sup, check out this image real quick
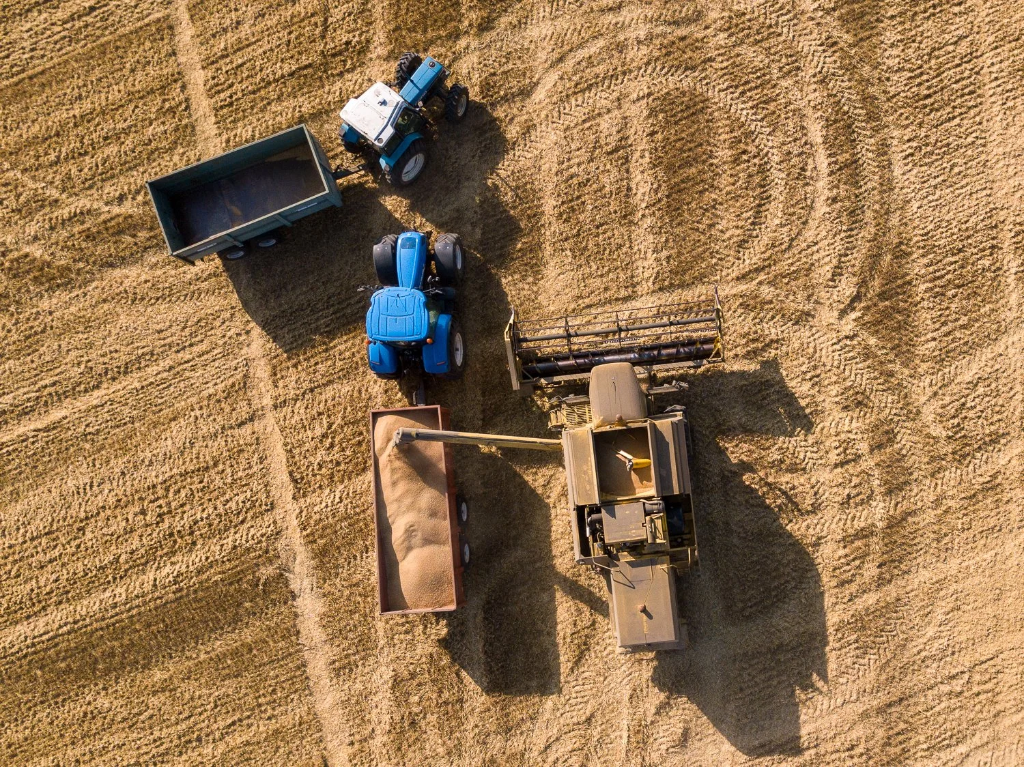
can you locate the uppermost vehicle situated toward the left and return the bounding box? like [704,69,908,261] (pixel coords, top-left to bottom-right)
[338,45,471,187]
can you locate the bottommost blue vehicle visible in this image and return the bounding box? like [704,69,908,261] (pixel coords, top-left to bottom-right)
[354,225,465,394]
